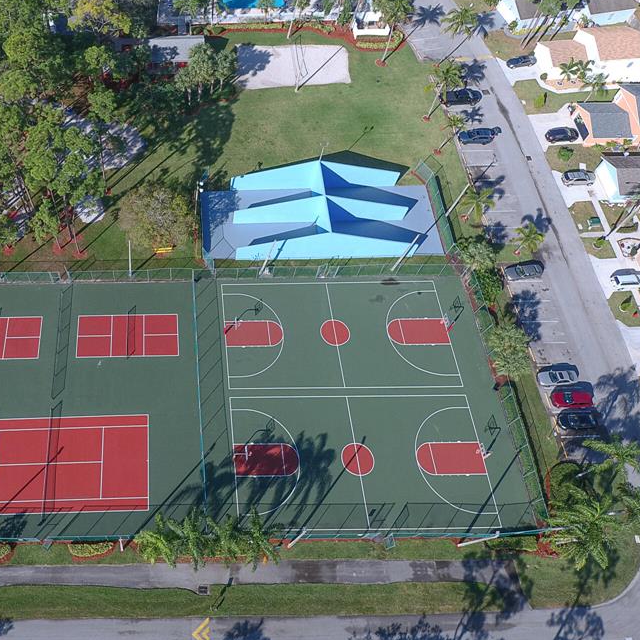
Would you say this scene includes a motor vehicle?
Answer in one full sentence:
Yes, there is a motor vehicle in the image.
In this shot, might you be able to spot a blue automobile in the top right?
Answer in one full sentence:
Yes, a blue automobile shows up in the top right.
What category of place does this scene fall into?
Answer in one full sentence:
This image shows a sports ground.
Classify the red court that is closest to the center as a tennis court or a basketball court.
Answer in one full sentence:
The red court that is closest to the center appears to be a basketball court.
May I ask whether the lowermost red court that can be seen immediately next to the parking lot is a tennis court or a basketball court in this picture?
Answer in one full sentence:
Specifically, the lowermost red court that can be seen immediately next to the parking lot is a basketball court.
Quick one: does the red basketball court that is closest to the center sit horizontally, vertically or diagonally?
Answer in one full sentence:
I'd say the red basketball court that is closest to the center is aligned horizontally in the picture.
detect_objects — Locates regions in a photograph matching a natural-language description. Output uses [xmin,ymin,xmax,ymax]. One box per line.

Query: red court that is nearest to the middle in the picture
[219,281,463,390]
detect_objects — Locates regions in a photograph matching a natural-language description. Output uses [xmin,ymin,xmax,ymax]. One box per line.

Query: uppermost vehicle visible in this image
[507,52,536,67]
